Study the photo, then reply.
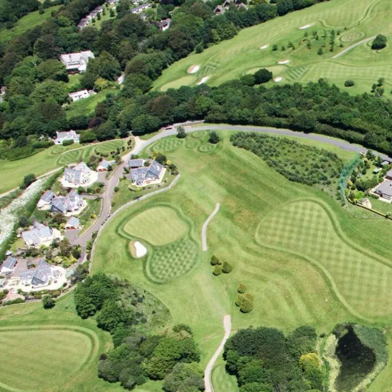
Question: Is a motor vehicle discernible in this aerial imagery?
No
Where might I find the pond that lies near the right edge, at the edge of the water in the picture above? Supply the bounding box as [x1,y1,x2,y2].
[333,325,375,392]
